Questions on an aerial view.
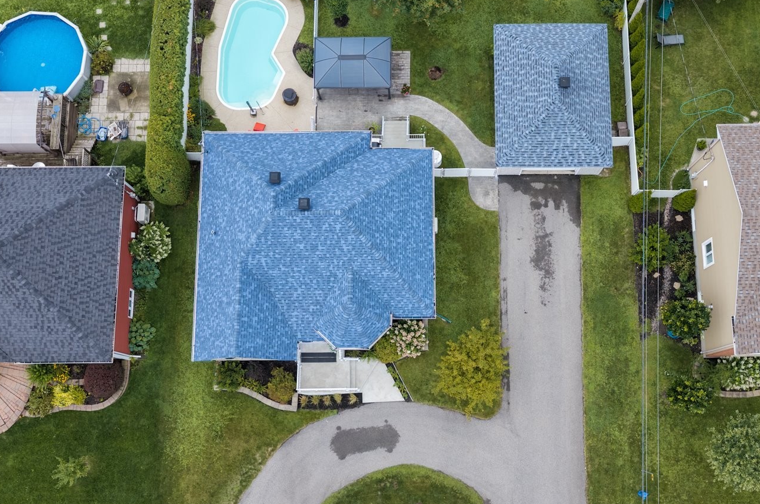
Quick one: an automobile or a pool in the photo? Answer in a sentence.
Visible in the photo is a pool.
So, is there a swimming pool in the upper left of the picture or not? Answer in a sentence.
Yes, a swimming pool appears in the upper left of the picture.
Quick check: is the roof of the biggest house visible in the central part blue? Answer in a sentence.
Yes, the roof of the biggest house visible in the central part is indeed blue.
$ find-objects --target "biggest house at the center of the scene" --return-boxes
[191,130,438,362]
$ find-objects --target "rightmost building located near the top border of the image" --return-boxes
[493,22,615,177]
